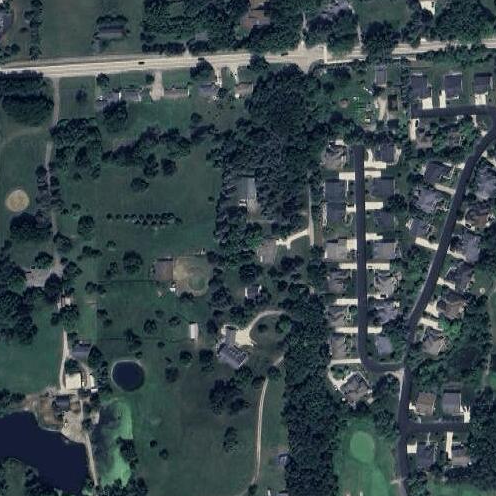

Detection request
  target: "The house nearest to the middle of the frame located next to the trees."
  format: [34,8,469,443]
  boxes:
[257,239,276,264]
